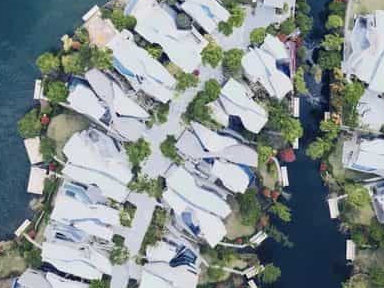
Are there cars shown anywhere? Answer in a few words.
No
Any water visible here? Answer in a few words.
Yes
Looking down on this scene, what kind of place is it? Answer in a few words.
residential area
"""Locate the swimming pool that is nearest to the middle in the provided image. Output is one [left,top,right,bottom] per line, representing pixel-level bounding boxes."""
[228,114,245,129]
